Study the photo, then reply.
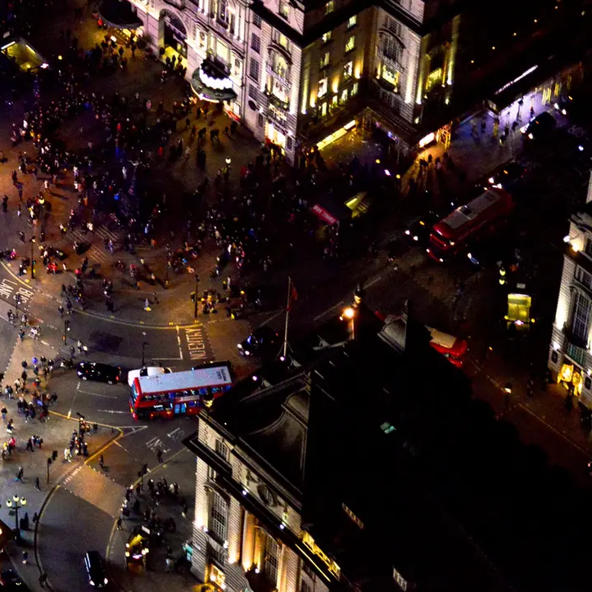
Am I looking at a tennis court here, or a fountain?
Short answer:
fountain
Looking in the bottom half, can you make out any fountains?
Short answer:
No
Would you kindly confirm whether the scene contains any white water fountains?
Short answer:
No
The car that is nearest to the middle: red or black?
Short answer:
black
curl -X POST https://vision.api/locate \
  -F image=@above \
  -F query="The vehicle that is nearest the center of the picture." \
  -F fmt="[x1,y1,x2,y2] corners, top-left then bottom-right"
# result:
[242,327,283,355]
